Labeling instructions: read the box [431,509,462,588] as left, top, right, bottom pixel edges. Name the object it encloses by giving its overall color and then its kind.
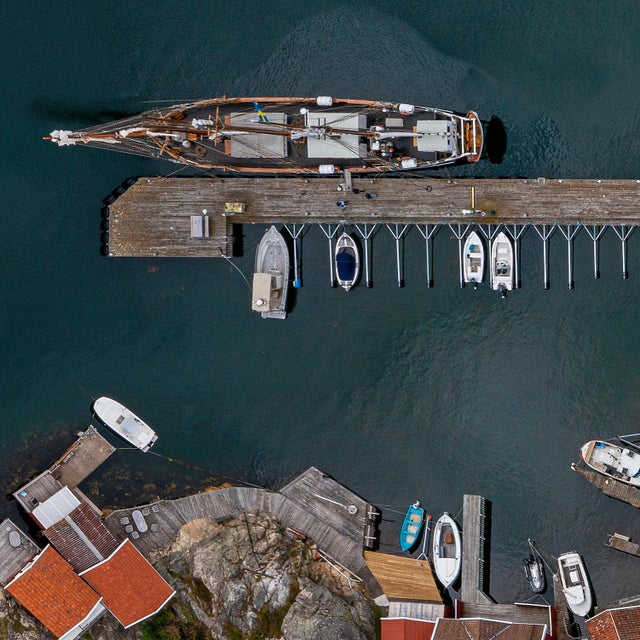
white boat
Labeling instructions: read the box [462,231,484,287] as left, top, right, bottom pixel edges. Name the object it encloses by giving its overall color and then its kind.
white boat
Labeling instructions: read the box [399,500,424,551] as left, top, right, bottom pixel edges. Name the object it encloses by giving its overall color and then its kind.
blue boat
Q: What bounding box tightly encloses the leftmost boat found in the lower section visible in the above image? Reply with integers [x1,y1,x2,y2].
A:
[94,395,159,452]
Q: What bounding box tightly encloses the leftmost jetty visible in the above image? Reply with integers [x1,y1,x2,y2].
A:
[50,426,116,489]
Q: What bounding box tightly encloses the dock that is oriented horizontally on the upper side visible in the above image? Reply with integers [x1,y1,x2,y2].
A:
[109,178,640,257]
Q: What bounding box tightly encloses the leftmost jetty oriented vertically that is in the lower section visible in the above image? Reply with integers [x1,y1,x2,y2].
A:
[459,495,496,604]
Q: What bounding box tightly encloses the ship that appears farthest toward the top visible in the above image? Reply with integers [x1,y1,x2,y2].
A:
[44,96,484,174]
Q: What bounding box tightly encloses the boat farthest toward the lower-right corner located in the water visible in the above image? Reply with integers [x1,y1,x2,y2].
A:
[558,549,593,618]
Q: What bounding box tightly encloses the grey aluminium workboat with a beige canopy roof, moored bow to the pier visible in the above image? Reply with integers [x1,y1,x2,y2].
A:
[253,224,292,318]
